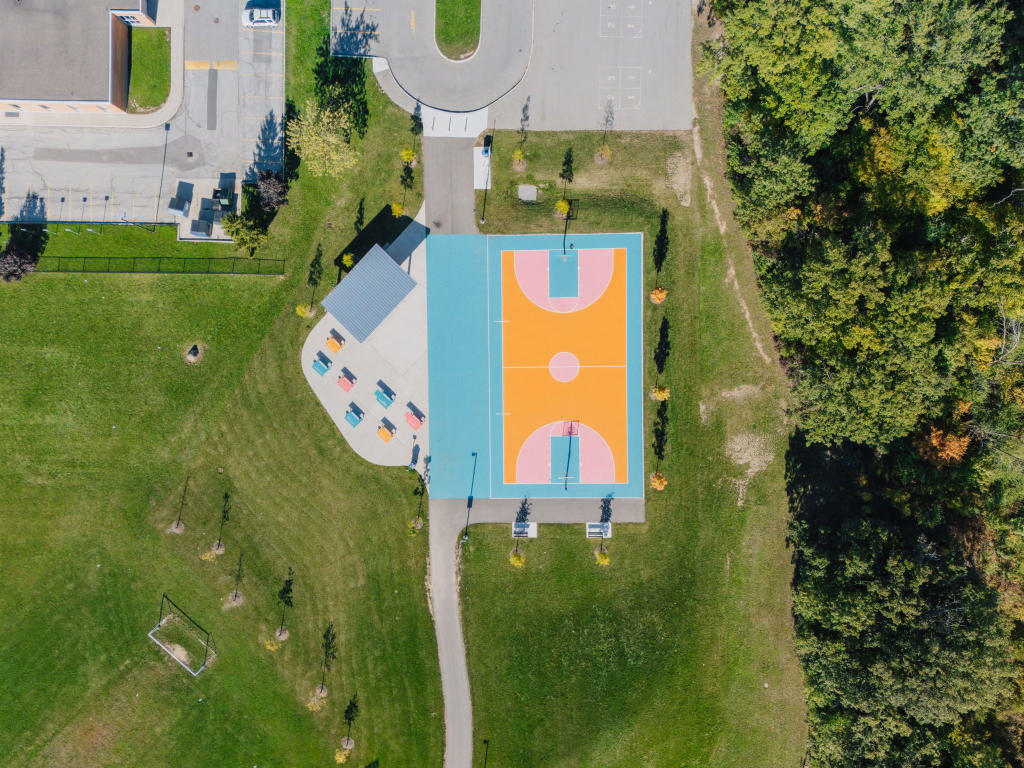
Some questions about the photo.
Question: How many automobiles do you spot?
1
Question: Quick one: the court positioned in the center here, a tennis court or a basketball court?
basketball court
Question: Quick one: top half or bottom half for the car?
top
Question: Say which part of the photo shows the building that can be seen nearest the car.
top left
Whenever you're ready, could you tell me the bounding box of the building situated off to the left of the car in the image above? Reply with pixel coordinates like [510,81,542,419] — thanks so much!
[0,0,156,114]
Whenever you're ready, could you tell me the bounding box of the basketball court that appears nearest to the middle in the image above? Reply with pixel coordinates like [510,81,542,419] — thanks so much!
[426,233,644,499]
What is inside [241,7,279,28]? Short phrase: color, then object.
white car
